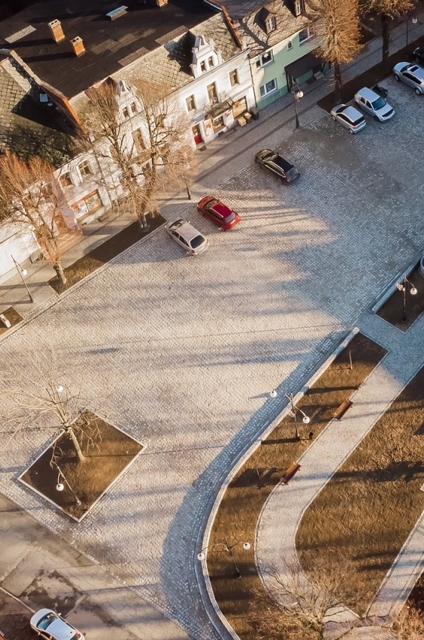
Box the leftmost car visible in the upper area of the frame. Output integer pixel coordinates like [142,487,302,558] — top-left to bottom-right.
[162,218,211,255]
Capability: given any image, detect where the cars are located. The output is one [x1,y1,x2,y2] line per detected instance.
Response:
[194,196,243,230]
[162,218,211,255]
[393,61,424,94]
[27,613,83,640]
[353,83,393,119]
[330,104,367,132]
[252,150,301,185]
